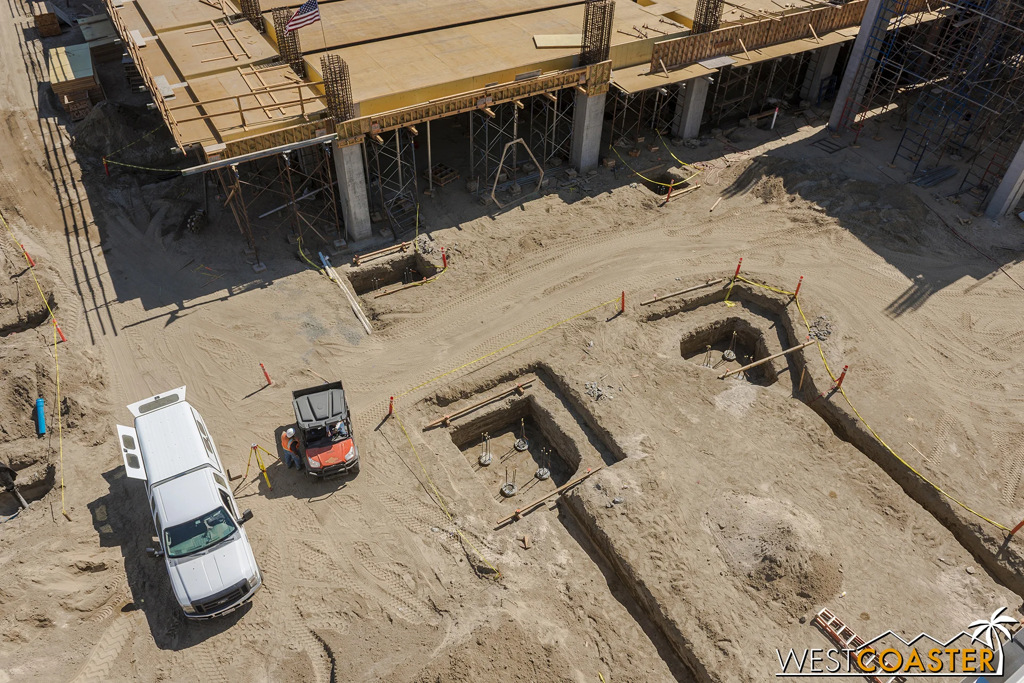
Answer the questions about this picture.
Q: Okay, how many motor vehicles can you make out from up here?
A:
2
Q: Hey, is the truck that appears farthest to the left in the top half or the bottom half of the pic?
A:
bottom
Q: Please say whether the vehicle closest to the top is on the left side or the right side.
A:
left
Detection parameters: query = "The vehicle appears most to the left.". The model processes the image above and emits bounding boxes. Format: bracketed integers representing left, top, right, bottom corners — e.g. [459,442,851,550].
[115,386,262,621]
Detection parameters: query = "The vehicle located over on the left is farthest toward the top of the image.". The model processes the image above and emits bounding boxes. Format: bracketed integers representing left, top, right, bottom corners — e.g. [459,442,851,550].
[289,382,359,483]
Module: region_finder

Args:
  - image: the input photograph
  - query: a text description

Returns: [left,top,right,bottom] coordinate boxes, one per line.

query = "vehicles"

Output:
[115,386,262,621]
[289,382,359,483]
